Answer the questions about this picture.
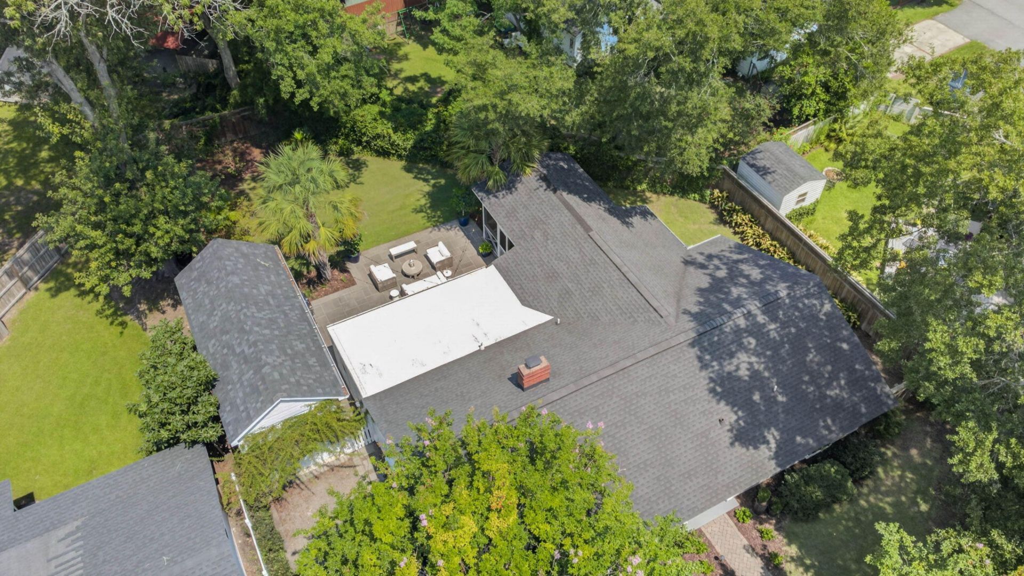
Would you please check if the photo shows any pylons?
No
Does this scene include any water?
No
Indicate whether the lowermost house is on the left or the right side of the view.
left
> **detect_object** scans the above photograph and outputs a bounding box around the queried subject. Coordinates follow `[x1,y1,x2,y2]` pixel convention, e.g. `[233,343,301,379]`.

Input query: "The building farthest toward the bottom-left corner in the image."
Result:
[0,445,242,576]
